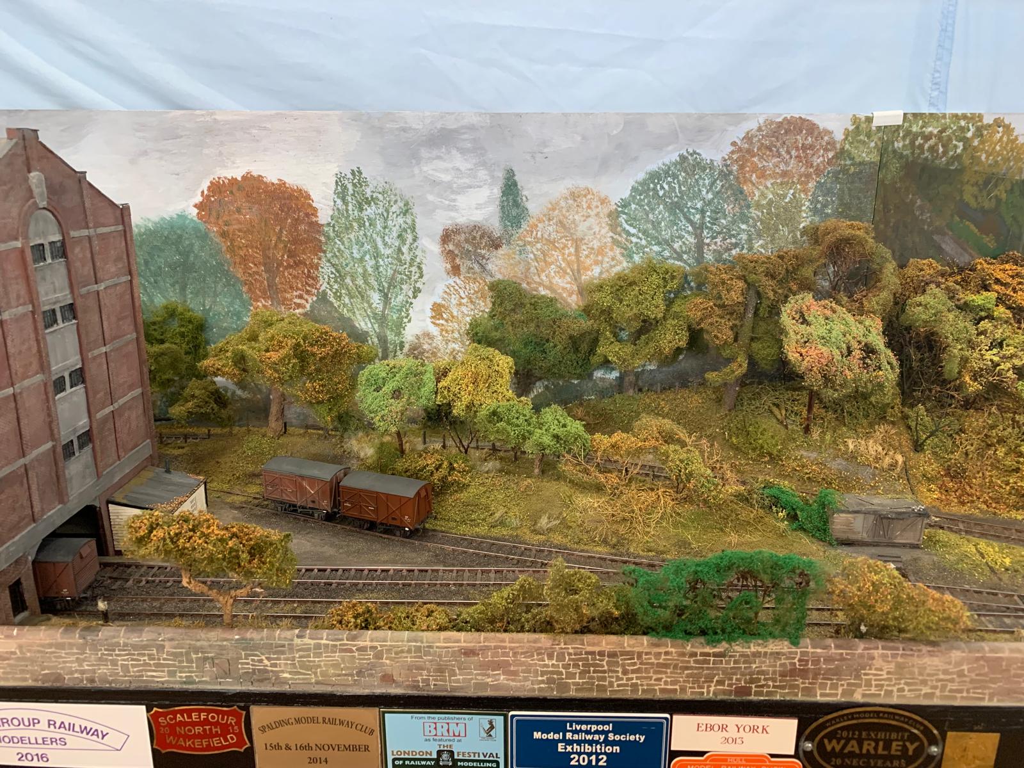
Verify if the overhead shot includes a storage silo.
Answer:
No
